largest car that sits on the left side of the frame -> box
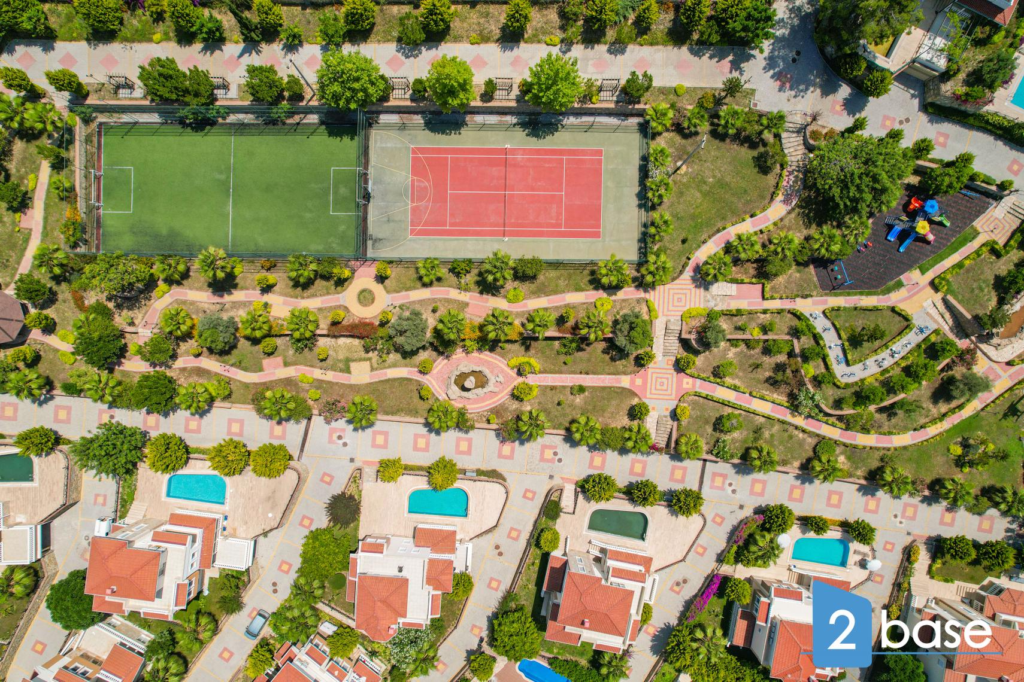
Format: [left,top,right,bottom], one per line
[246,607,271,641]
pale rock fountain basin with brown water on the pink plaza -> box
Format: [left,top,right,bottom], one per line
[446,362,498,399]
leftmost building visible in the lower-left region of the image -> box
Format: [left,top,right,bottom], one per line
[0,502,57,567]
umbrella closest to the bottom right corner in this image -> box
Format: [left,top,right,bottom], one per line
[862,556,881,573]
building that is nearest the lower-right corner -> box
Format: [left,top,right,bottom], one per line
[897,579,1024,682]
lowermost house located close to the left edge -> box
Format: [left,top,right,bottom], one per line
[21,613,167,682]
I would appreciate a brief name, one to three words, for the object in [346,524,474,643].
house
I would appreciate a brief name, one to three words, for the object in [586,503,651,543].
swimming pool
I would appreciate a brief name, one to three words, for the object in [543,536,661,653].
house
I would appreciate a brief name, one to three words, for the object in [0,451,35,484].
swimming pool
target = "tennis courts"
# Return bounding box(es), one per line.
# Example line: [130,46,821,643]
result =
[366,121,639,262]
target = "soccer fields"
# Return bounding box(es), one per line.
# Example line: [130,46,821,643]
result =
[95,122,368,257]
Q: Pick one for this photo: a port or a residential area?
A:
residential area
